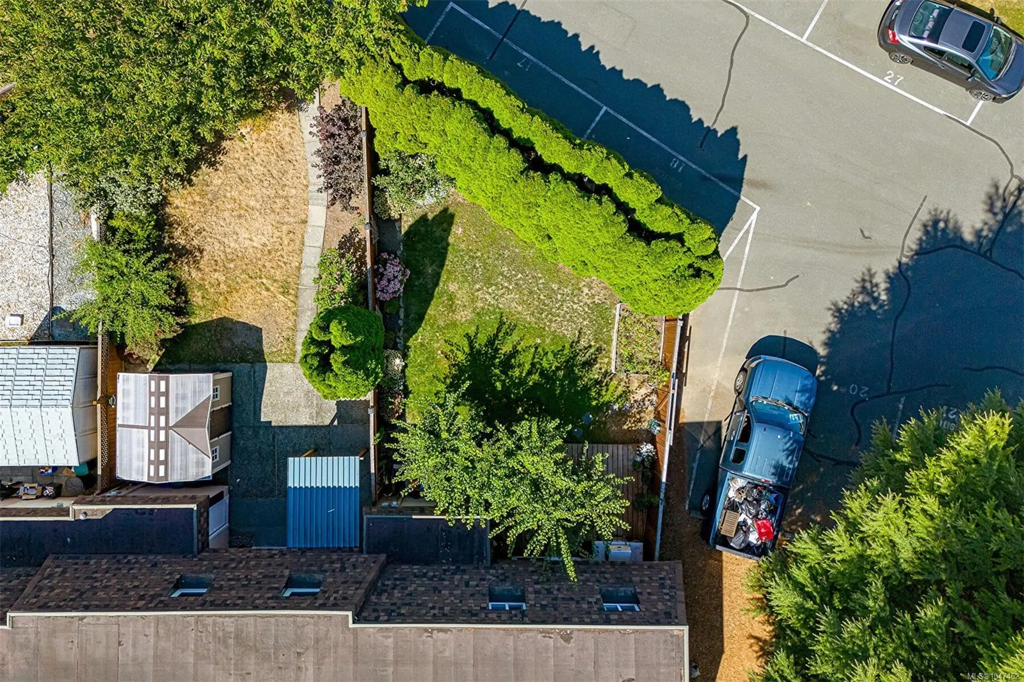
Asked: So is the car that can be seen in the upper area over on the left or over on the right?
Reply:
right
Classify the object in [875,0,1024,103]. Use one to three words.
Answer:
car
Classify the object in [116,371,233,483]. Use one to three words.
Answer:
shed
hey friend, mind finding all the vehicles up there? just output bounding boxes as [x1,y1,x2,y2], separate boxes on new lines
[875,0,1024,103]
[705,354,818,561]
